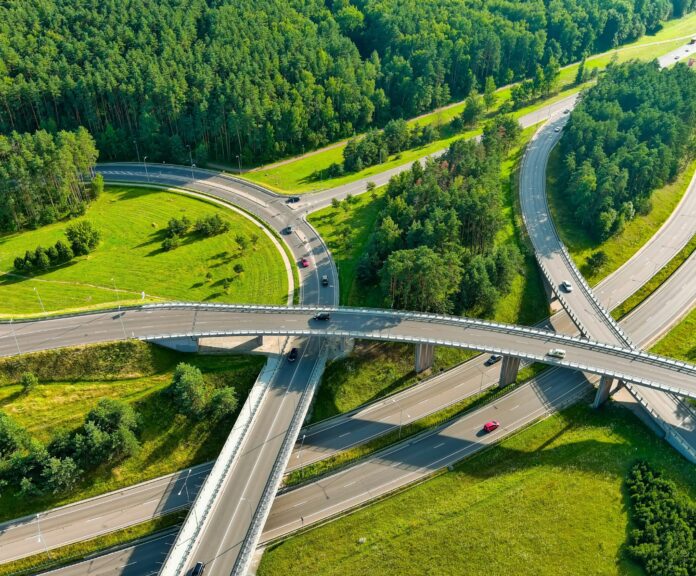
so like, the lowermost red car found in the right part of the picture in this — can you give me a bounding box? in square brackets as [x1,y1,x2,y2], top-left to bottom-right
[481,421,499,433]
